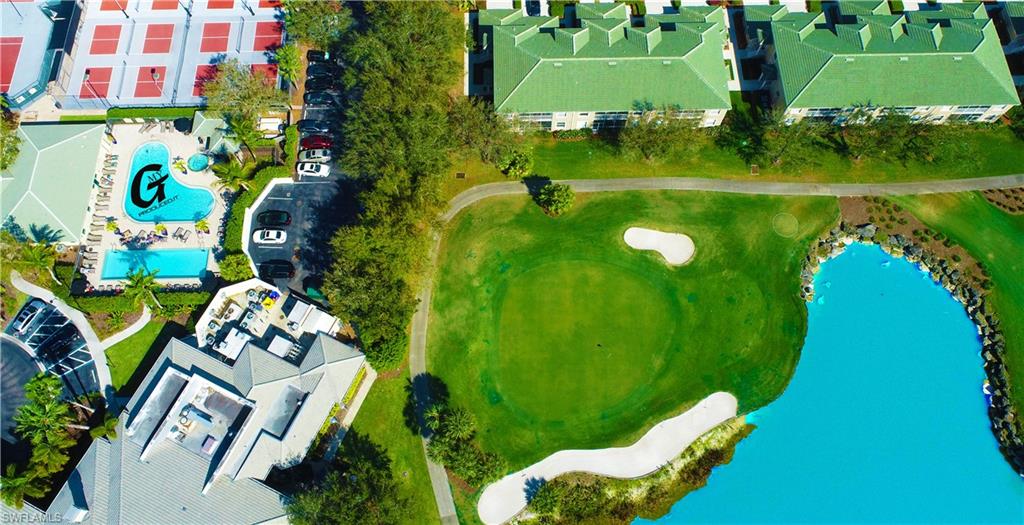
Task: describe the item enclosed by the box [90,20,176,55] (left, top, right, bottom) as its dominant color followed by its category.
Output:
red sports court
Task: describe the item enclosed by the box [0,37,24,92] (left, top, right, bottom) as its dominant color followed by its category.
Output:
red tennis court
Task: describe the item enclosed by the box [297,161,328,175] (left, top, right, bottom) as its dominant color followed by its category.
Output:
white car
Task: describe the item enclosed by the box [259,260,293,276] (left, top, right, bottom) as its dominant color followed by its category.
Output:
black car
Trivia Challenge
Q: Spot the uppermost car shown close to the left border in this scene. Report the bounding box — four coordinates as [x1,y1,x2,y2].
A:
[11,298,44,329]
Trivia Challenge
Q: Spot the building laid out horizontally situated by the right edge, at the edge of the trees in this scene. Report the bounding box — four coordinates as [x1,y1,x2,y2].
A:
[743,0,1022,129]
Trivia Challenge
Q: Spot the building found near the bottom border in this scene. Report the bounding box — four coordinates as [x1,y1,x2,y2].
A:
[0,331,364,525]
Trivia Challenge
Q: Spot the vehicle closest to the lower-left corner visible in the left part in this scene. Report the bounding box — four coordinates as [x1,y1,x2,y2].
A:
[36,331,73,360]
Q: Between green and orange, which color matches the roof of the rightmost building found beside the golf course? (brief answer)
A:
green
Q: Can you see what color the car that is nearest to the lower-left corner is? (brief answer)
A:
black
